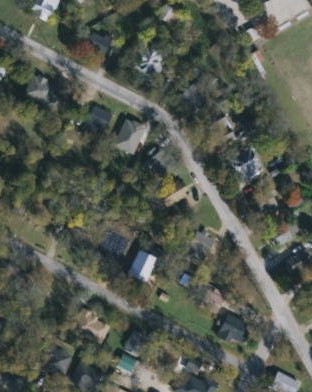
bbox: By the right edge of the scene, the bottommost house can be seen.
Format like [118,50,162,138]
[270,370,302,392]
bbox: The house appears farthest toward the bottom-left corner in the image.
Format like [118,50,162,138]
[46,350,74,375]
